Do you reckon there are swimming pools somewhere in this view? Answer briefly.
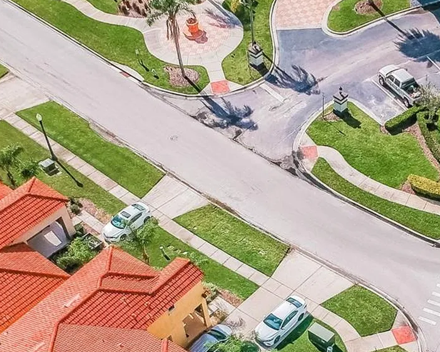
No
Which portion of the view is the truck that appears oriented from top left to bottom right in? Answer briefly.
top right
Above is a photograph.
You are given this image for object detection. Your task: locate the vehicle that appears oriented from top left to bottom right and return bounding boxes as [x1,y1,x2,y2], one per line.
[377,60,425,103]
